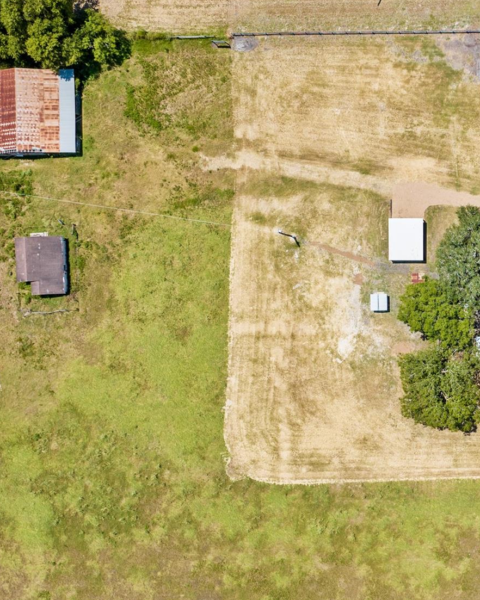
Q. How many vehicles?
0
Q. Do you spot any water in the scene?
No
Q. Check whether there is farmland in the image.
Yes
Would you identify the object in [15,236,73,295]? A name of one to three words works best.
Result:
house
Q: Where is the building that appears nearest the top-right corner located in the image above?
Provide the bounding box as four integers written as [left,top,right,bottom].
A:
[389,218,426,261]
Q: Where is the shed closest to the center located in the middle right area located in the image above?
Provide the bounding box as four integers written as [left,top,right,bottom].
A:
[370,293,390,310]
